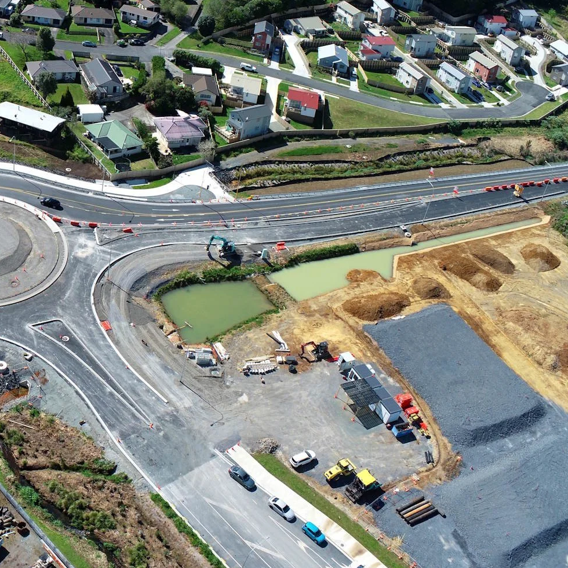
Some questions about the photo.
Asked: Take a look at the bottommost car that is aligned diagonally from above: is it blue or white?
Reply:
blue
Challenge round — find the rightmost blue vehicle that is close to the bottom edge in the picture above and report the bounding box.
[299,518,329,548]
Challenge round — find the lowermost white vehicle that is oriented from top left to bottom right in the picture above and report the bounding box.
[266,493,299,524]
